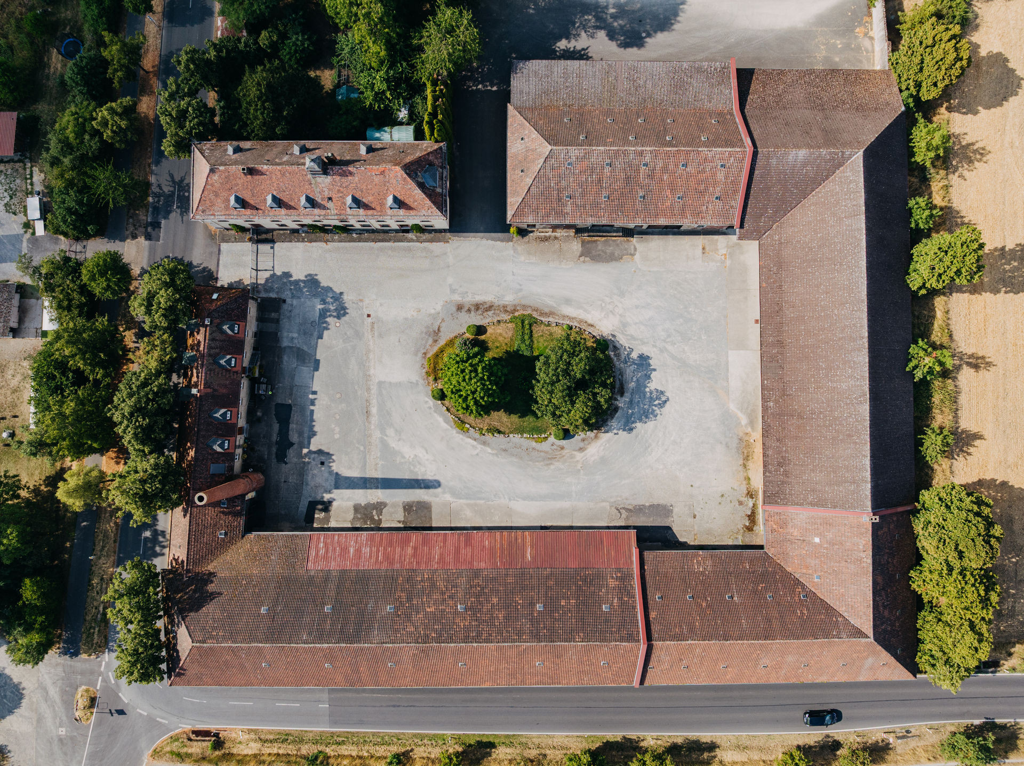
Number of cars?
1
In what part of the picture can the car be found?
bottom right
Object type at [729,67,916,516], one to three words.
barn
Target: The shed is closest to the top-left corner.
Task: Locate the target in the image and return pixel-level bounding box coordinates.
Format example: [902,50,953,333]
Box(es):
[0,112,40,172]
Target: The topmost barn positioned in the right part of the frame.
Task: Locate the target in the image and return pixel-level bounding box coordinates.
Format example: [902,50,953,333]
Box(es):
[506,57,753,230]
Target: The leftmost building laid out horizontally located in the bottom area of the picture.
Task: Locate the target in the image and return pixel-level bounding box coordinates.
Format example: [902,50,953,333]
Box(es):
[160,530,647,688]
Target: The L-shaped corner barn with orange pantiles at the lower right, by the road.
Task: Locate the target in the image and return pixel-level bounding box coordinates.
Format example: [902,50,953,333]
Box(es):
[639,506,918,687]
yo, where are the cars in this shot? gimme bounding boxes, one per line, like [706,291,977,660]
[803,708,835,728]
